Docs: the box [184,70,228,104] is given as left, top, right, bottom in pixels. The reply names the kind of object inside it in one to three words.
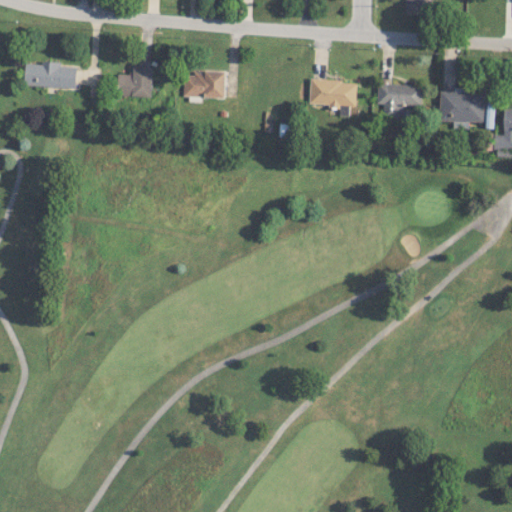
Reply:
house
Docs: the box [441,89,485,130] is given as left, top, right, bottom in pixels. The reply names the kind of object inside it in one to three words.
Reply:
house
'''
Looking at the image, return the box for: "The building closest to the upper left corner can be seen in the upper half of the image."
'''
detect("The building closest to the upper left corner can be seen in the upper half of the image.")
[25,62,80,94]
